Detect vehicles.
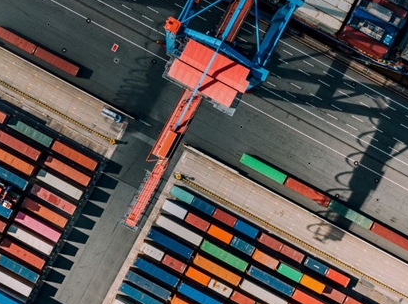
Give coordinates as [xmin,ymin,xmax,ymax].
[102,106,124,123]
[0,176,27,211]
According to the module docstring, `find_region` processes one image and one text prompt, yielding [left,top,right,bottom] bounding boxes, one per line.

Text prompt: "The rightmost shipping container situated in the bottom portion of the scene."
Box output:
[368,220,408,251]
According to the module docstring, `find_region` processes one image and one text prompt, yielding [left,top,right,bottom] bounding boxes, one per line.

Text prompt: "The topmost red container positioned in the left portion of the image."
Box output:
[0,23,39,52]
